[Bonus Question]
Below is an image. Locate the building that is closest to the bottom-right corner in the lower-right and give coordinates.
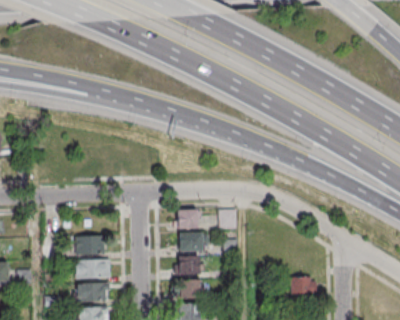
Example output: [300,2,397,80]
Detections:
[292,276,316,294]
